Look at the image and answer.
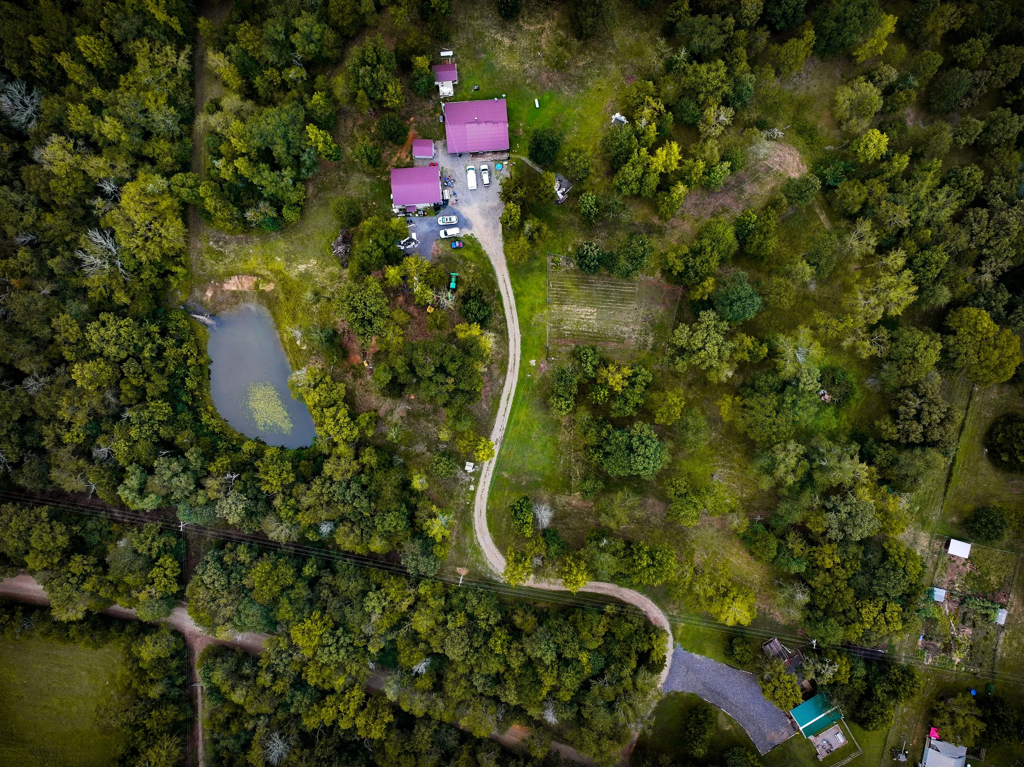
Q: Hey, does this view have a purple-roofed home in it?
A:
Yes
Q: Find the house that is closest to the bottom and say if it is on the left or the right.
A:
right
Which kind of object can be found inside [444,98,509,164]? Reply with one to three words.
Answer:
house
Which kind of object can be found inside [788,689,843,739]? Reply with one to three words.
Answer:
house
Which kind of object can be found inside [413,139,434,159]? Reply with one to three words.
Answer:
shed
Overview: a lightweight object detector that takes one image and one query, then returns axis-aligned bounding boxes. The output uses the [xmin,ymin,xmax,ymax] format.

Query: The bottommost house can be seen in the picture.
[915,736,967,767]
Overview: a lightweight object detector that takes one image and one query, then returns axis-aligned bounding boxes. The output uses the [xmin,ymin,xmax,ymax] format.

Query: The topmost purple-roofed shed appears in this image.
[433,64,459,90]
